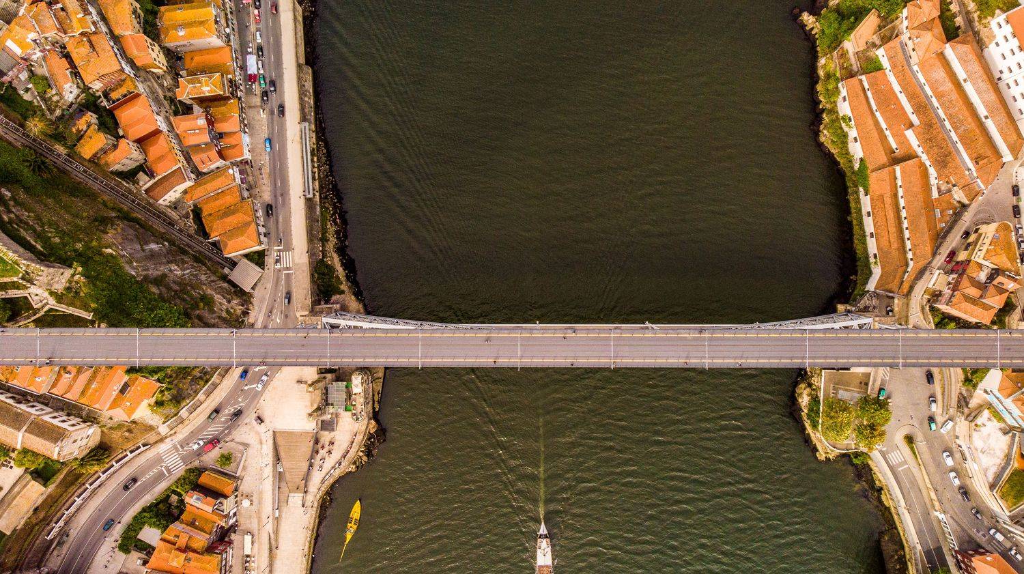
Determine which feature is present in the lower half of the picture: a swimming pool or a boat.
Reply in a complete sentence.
Visible in the lower half of the picture is a boat.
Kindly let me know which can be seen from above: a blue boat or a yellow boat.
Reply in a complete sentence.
This aerial view contains a yellow boat.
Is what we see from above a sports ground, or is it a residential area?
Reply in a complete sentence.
It's a residential area.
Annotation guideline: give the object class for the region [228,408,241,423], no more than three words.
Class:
vehicle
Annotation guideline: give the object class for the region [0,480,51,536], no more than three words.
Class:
shed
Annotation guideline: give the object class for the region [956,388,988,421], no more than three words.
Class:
building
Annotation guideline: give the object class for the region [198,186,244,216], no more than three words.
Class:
house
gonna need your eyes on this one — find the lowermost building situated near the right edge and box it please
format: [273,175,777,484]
[952,542,1016,574]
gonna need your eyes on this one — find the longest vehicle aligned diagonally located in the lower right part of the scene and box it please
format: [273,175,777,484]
[993,529,1014,551]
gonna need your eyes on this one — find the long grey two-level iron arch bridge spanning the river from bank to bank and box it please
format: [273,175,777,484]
[0,306,1024,368]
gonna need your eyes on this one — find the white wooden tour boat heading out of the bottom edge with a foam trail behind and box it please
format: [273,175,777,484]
[532,524,553,574]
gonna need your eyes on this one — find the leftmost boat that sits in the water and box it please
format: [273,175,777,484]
[340,500,360,562]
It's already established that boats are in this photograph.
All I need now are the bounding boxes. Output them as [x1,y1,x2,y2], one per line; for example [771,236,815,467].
[340,500,360,562]
[532,524,553,574]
